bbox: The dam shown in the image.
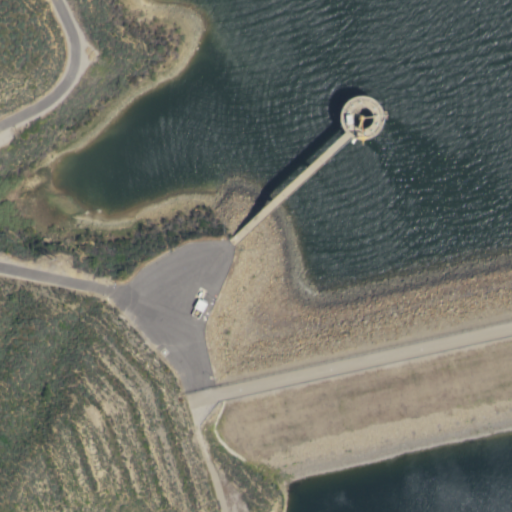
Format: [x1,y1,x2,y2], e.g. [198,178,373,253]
[186,172,512,476]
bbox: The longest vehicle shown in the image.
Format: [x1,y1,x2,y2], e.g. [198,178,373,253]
[192,298,208,319]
